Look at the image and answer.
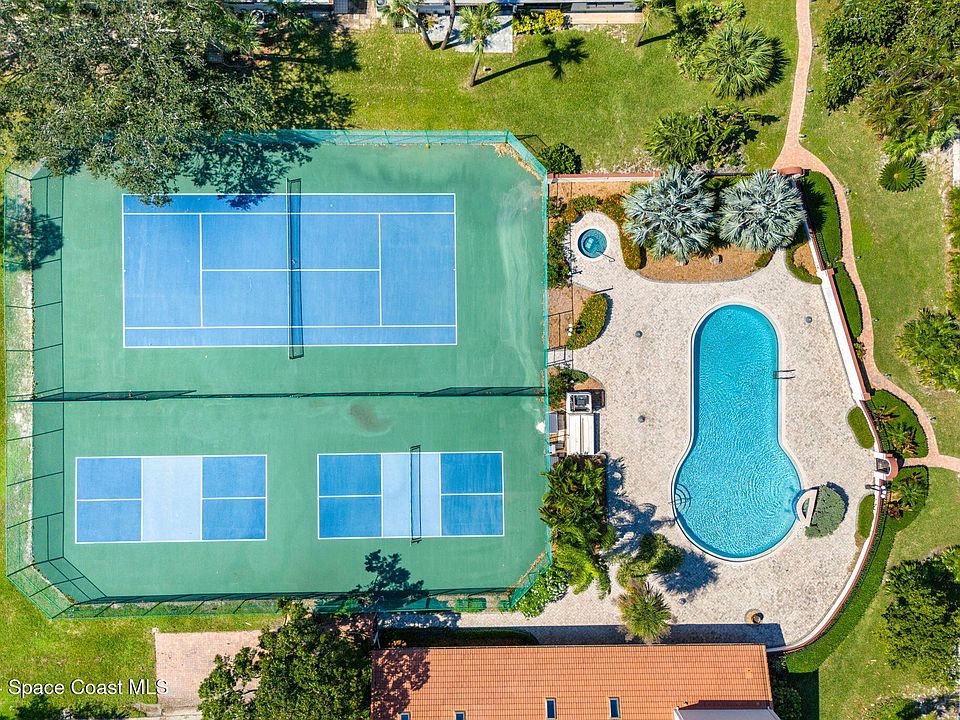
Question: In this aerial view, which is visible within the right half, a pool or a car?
pool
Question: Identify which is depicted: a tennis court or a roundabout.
tennis court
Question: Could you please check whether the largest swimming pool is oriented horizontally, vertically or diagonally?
vertically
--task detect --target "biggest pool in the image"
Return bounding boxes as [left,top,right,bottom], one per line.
[668,301,804,564]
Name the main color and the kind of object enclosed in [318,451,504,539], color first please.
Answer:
blue sports court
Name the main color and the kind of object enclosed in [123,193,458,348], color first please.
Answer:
blue tennis court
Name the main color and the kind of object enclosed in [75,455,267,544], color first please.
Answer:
blue sports court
